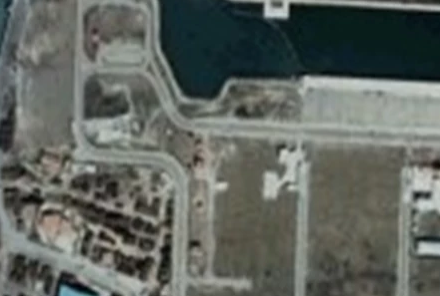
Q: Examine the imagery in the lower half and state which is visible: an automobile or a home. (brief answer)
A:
home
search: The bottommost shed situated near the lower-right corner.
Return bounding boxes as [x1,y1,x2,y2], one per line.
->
[418,241,440,255]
